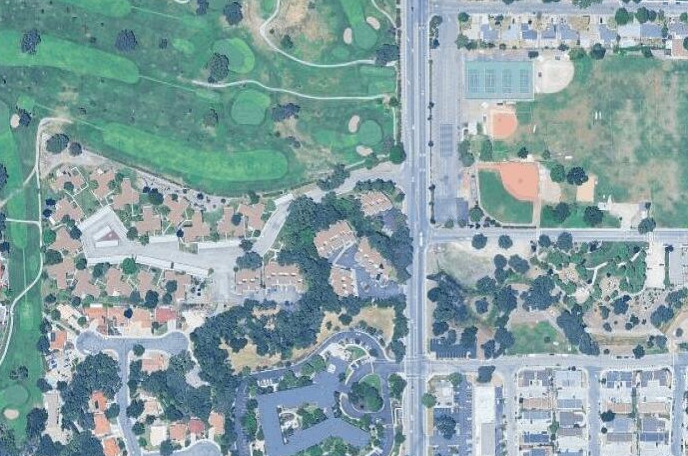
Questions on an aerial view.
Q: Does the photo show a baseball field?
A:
Yes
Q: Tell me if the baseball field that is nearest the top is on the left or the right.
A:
right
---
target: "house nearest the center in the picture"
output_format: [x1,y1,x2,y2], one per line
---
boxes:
[314,220,357,254]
